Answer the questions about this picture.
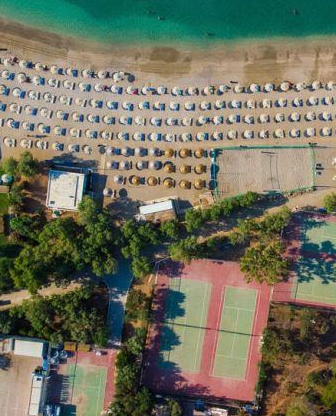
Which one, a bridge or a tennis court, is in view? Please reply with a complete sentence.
The image shows a tennis court.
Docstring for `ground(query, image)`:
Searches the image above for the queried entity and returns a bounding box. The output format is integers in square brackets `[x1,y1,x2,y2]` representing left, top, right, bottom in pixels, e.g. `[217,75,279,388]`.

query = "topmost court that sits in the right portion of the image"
[216,147,314,202]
